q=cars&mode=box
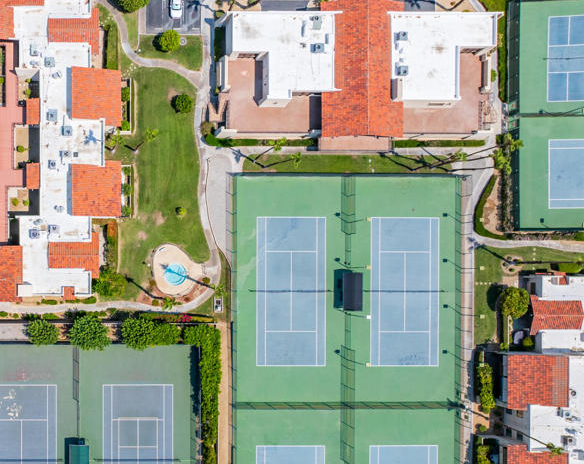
[170,0,185,18]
